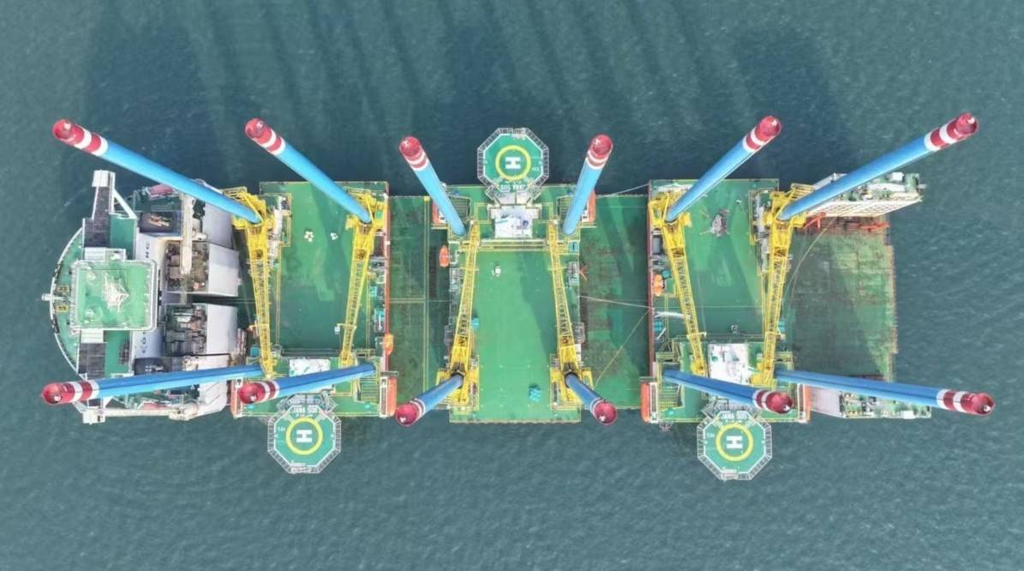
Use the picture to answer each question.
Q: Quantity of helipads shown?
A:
3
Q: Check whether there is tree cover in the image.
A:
No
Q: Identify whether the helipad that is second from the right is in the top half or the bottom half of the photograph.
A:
top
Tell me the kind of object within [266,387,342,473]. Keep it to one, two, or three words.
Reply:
helipad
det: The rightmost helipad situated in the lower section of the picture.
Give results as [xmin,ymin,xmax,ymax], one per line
[695,395,772,480]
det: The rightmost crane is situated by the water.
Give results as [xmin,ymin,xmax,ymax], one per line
[750,183,815,385]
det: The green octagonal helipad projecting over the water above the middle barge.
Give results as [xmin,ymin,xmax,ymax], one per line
[475,127,548,209]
